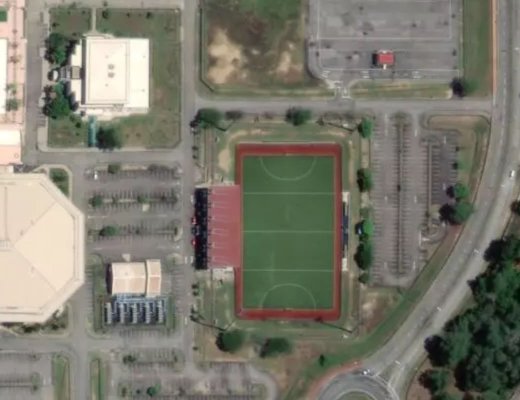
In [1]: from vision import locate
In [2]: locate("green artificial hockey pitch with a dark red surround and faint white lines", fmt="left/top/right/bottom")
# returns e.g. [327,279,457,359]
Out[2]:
[235,144,342,321]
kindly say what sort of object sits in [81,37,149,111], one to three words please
building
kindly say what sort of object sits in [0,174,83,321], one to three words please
building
